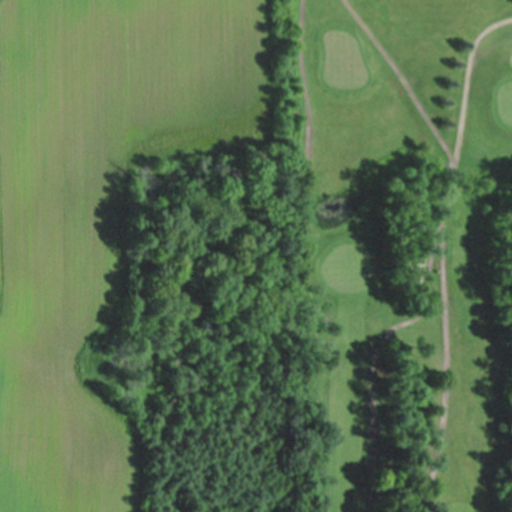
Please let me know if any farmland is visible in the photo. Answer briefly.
Yes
